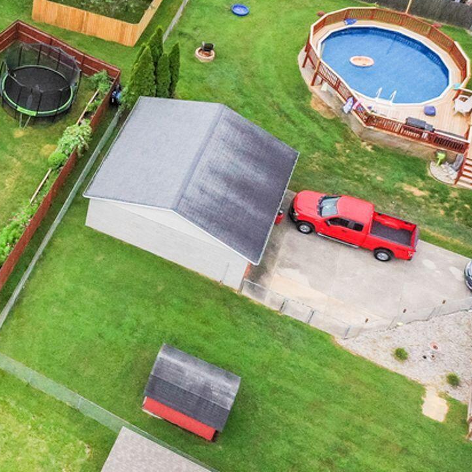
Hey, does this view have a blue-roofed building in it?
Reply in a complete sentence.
No, the picture doesn't show any blue-roofed building.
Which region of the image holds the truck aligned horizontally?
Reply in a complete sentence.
The truck aligned horizontally appears toward the right of the photo.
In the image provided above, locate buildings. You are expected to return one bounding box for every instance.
[105,427,225,472]
[140,348,235,443]
[82,96,298,286]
